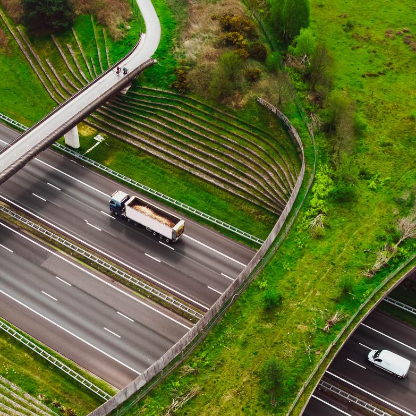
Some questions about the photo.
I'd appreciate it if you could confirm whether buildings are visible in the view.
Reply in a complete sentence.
No, there isn't any building down there.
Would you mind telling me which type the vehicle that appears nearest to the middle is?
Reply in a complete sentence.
Specifically, the vehicle that appears nearest to the middle is a truck.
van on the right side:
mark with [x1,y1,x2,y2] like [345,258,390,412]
[367,351,413,381]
